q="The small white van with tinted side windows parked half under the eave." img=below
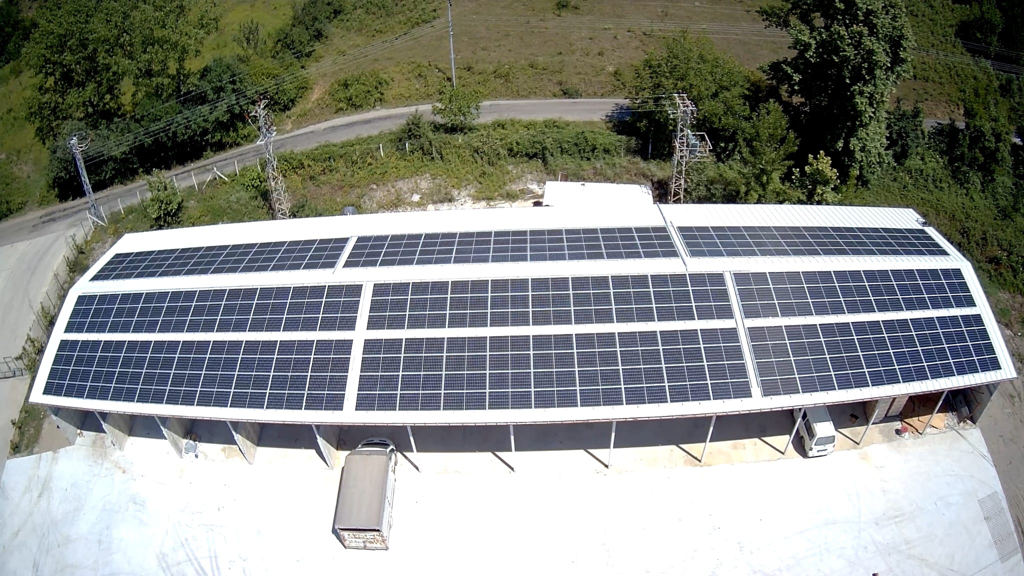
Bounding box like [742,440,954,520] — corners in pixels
[790,411,837,458]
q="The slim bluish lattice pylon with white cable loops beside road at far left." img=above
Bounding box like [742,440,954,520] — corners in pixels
[69,129,99,226]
